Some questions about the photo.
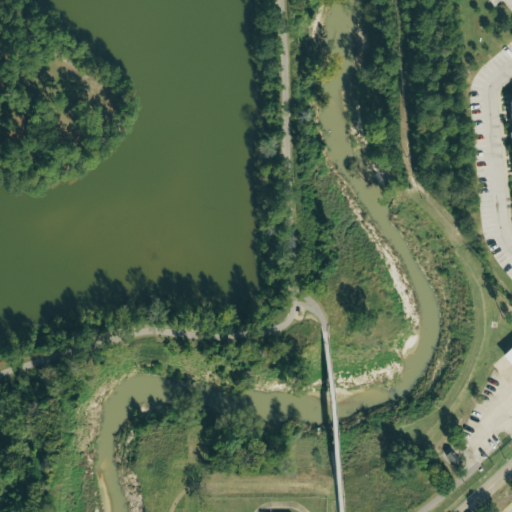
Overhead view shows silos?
No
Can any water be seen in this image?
Yes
